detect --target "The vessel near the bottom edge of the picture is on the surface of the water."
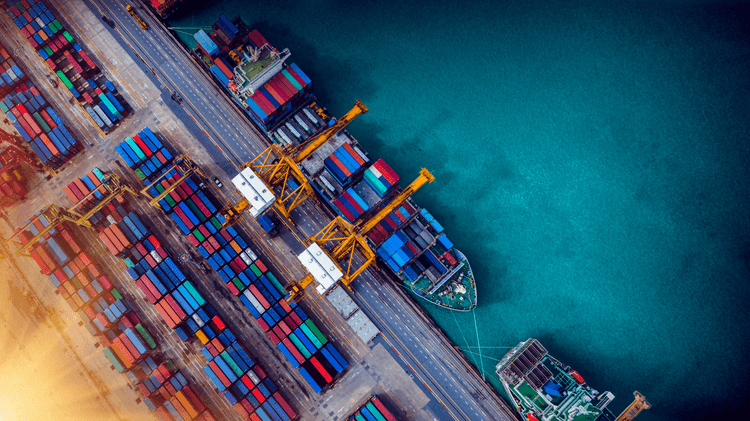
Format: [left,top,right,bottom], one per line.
[491,336,622,421]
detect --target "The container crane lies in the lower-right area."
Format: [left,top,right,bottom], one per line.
[613,393,647,421]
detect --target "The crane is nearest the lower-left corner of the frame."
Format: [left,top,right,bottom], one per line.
[0,201,90,266]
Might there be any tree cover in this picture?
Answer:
No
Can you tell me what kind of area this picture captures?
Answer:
port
